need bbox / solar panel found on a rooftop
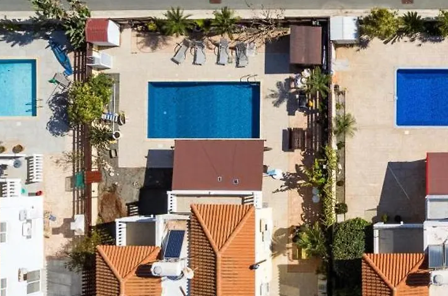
[163,229,185,260]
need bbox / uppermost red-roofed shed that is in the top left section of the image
[85,18,118,47]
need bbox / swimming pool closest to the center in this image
[145,73,261,140]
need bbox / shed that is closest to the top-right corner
[331,17,360,43]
